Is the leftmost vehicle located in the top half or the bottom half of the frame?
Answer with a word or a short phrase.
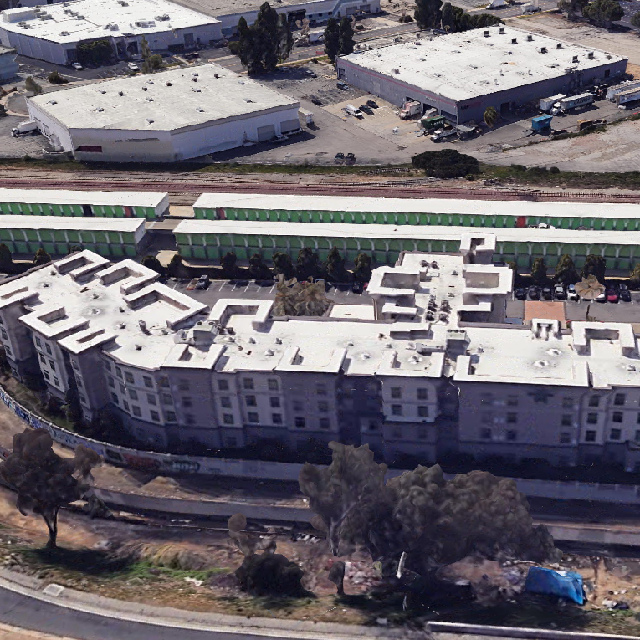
top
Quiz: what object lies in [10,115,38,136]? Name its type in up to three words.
vehicle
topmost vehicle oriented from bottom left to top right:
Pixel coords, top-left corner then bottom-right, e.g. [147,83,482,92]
[303,27,324,44]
